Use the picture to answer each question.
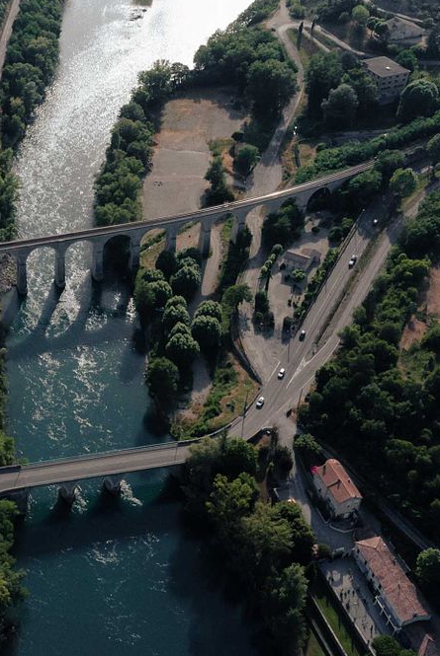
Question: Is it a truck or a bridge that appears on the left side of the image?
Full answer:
The feature located on the left side of the image is a bridge.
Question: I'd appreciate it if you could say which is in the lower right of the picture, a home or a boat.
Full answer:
You can see a home in the lower right of the picture.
